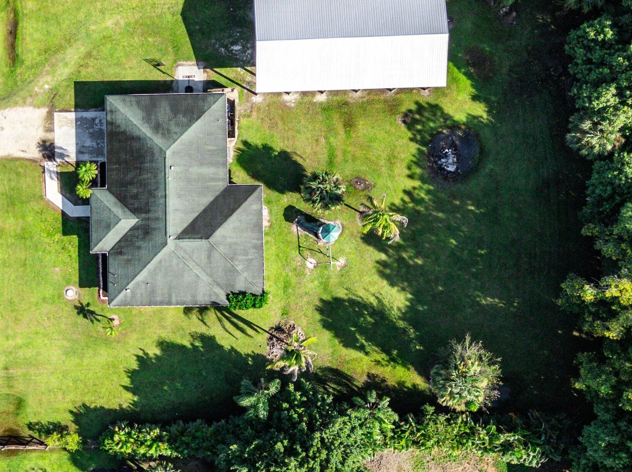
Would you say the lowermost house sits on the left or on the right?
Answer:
left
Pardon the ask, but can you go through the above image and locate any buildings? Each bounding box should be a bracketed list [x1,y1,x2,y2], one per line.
[252,0,449,100]
[89,92,265,308]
